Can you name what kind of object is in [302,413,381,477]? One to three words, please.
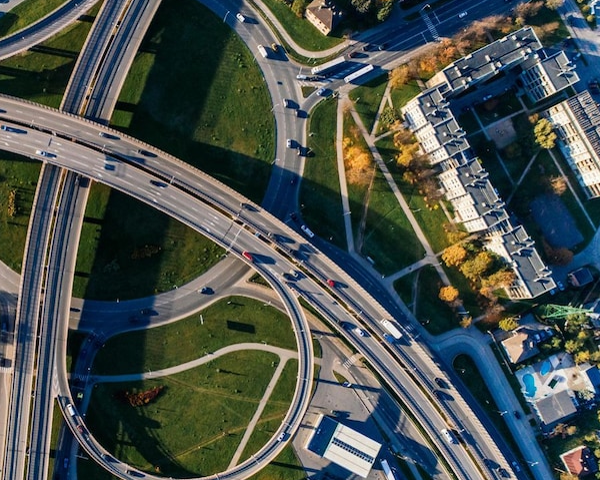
building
